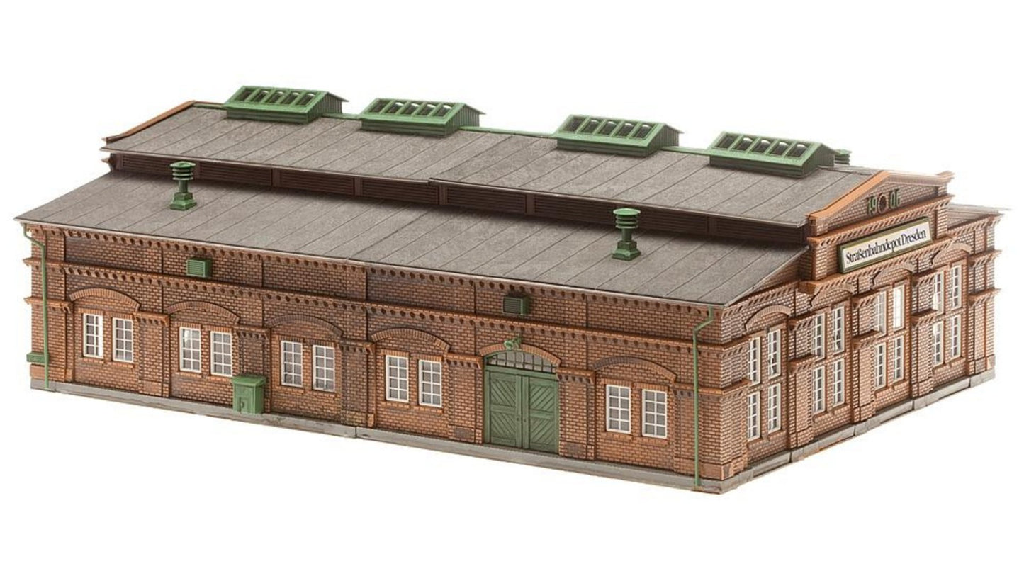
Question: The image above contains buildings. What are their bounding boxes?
[14,85,1010,494]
